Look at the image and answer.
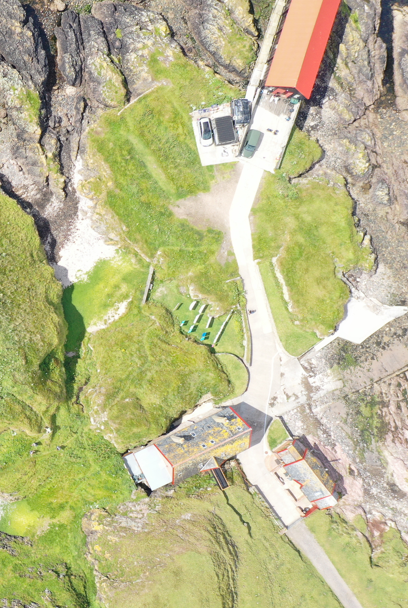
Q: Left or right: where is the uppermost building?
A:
right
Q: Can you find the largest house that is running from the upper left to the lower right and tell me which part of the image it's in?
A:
bottom right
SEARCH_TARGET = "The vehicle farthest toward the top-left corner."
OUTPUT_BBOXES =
[195,116,211,147]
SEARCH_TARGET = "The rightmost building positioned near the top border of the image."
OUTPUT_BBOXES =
[250,0,341,102]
